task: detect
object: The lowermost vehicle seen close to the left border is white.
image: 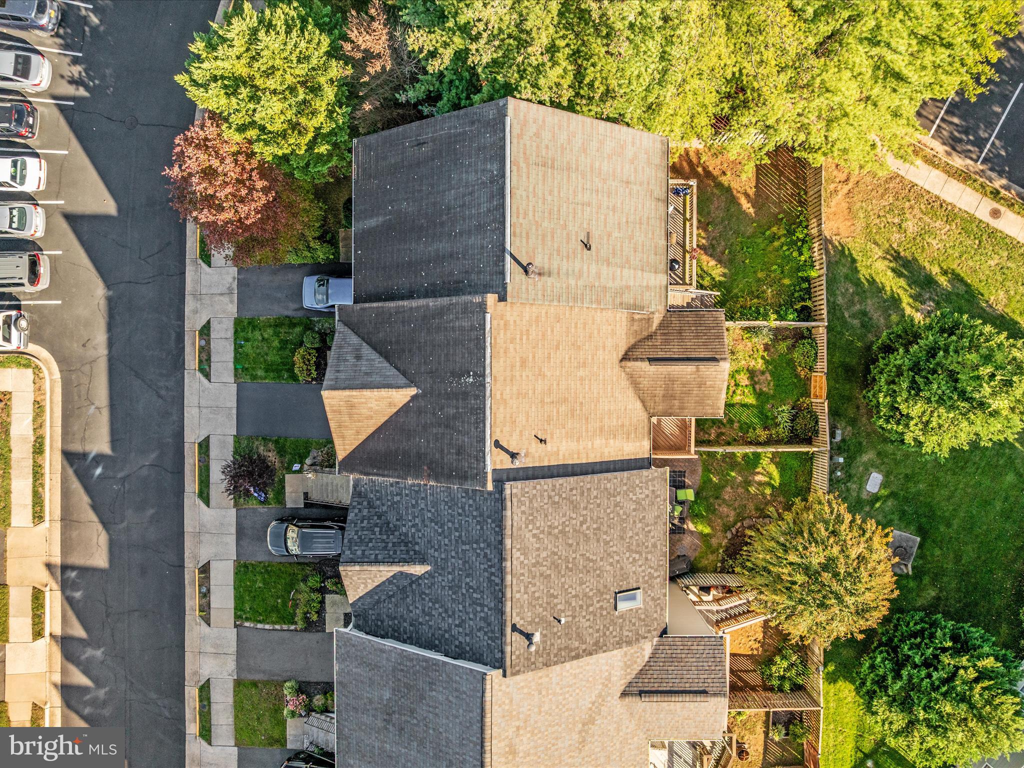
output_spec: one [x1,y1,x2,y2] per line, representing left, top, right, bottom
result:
[0,313,30,348]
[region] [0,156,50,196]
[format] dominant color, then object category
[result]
white car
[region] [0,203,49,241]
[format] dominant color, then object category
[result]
white car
